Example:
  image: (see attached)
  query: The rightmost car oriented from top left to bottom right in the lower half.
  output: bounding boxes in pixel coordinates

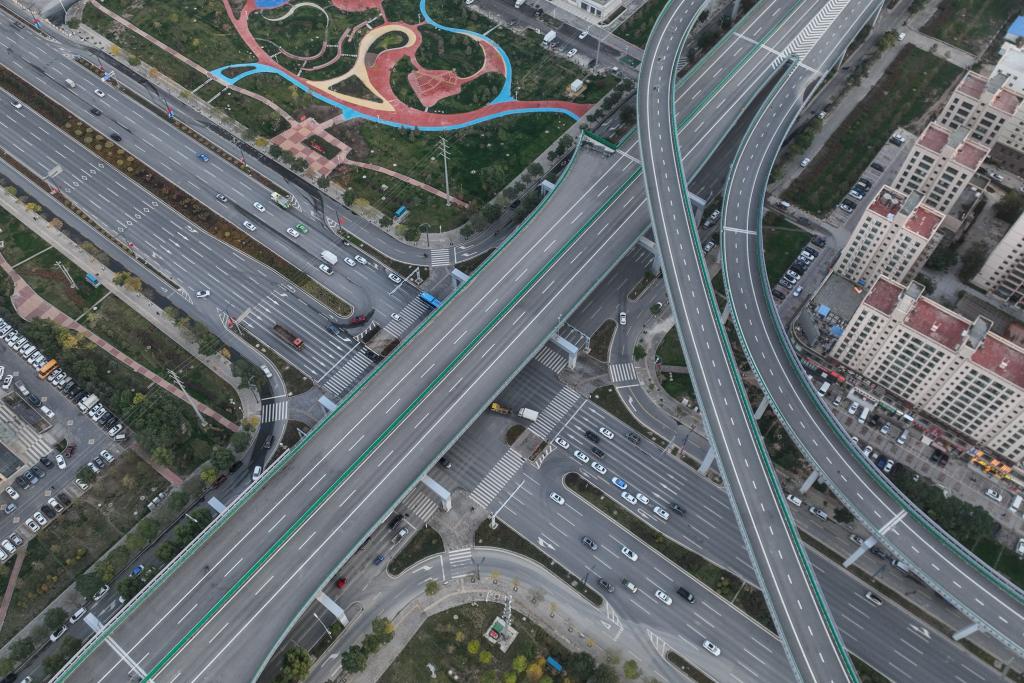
[984,488,1003,502]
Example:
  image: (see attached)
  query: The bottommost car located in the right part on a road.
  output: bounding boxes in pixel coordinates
[702,640,721,656]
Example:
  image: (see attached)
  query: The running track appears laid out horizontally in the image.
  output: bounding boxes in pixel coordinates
[215,0,578,130]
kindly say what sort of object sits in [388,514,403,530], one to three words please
car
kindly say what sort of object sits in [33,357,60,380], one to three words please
bus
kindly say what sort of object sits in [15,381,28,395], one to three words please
vehicle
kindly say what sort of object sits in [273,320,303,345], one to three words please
truck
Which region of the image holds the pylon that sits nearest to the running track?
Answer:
top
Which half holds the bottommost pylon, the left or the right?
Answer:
left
